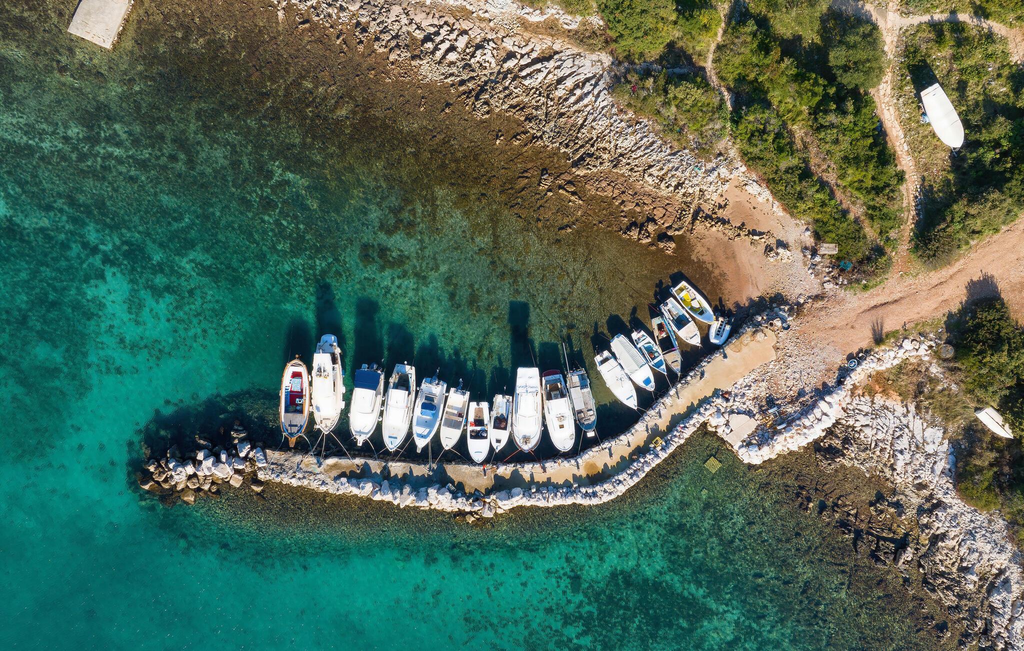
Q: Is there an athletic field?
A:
No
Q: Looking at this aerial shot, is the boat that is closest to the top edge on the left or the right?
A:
right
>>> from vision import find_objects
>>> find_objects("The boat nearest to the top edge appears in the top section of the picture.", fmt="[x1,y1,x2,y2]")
[914,83,968,156]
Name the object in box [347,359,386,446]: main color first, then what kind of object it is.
white boat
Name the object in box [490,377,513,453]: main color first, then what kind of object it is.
white boat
